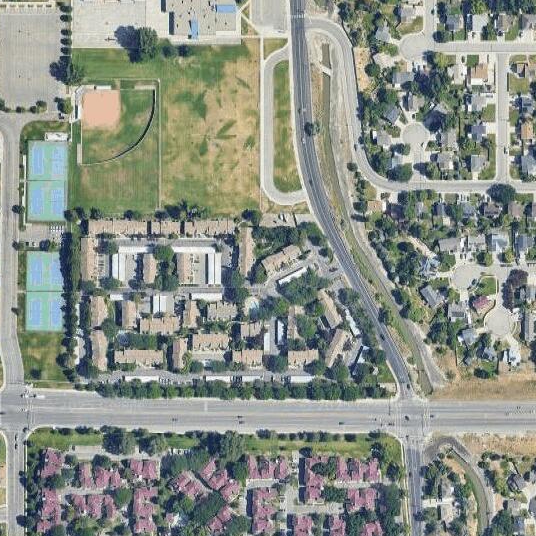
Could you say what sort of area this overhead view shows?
residential area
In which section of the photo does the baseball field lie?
top left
